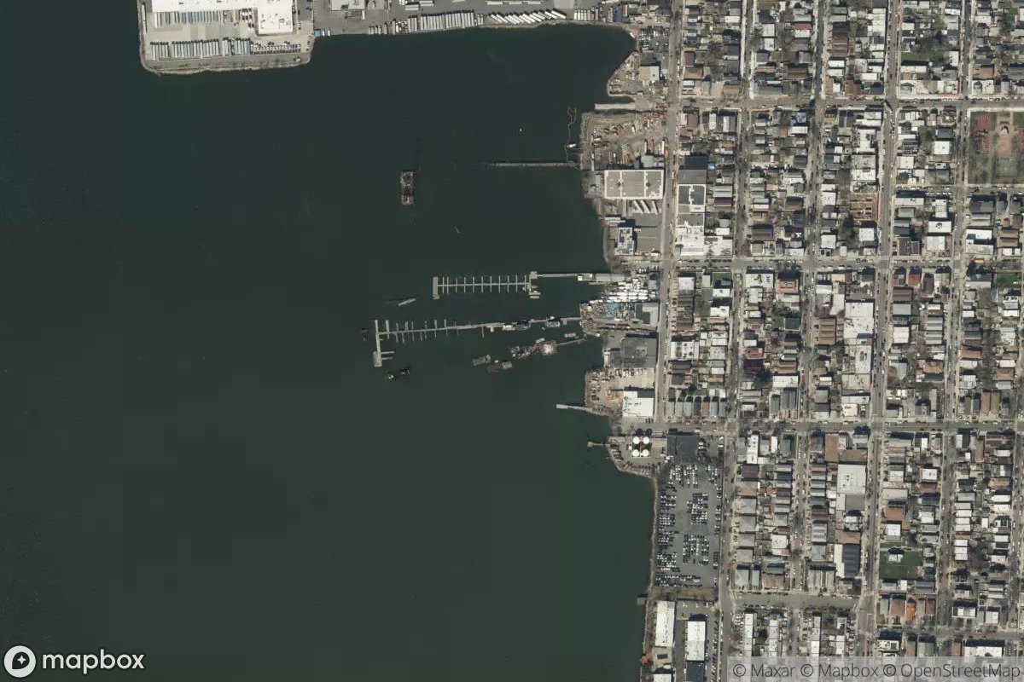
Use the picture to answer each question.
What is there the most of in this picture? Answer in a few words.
water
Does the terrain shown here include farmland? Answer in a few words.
No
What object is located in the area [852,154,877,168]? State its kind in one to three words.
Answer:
building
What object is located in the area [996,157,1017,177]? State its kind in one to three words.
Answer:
sports court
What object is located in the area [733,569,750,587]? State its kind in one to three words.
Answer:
house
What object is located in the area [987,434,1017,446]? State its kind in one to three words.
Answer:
building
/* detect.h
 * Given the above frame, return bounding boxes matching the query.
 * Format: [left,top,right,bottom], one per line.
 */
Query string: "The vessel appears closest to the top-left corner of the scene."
[401,172,413,204]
